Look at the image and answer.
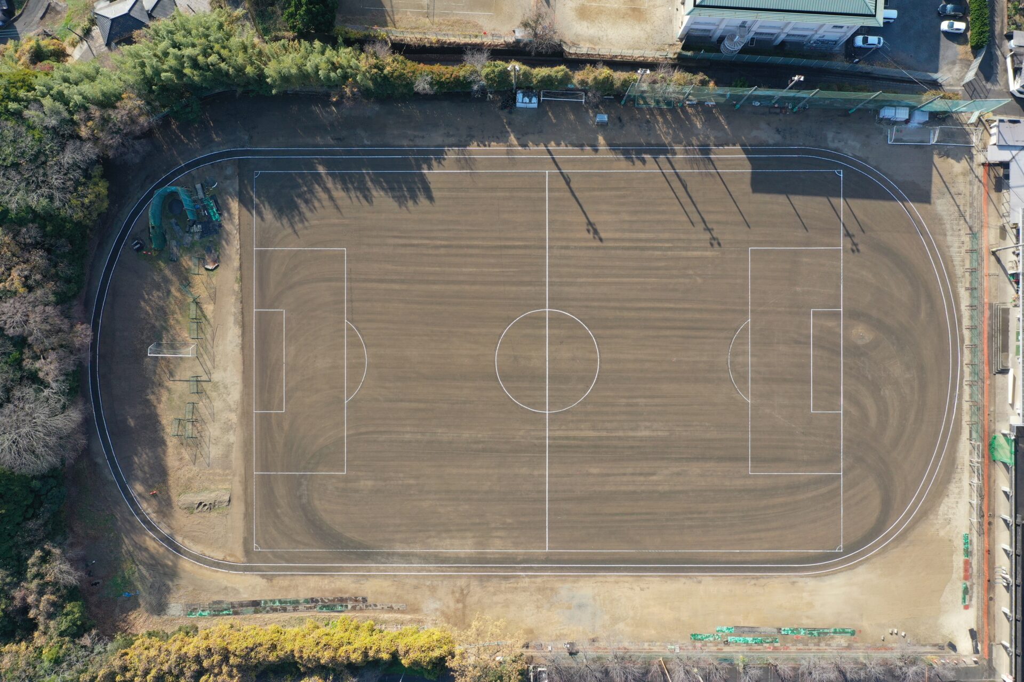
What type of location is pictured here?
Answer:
sports ground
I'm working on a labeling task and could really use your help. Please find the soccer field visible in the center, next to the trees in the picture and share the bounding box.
[240,158,950,564]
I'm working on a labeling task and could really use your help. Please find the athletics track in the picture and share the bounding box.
[89,147,960,575]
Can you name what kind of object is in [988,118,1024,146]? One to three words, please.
building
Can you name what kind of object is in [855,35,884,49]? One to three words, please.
car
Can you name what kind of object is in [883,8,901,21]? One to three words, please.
vehicle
